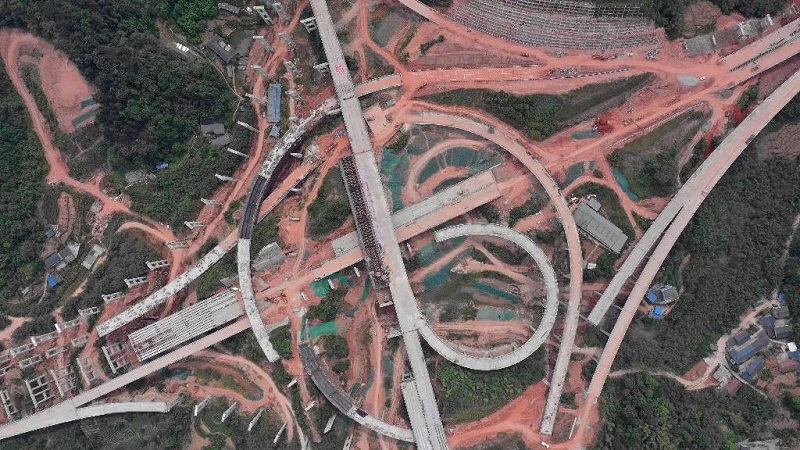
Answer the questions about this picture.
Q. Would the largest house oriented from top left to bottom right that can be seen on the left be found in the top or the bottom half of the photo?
top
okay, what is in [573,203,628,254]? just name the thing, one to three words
building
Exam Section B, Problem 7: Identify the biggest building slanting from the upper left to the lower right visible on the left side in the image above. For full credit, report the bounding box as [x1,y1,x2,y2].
[209,35,240,64]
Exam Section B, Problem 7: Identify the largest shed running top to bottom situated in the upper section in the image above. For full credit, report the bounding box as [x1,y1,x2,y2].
[266,84,282,123]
